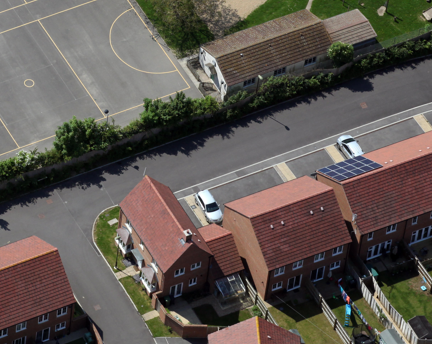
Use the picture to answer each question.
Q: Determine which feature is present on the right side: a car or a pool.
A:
car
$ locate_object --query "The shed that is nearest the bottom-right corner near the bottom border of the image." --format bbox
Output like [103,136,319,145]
[407,316,432,339]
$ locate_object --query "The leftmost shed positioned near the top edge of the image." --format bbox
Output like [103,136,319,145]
[198,8,332,99]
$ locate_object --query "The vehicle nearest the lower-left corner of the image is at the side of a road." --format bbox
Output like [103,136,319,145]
[193,187,225,224]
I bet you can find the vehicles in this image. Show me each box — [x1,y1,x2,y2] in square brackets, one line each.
[193,187,225,224]
[333,131,365,158]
